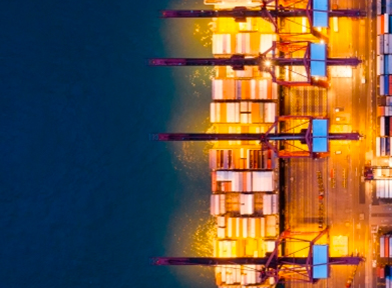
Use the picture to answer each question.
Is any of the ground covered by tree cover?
No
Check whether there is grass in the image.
No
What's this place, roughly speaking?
port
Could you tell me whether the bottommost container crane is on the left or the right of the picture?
right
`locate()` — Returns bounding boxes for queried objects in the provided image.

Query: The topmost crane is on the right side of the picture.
[156,0,366,43]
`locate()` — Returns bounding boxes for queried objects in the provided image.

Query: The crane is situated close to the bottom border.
[154,223,366,285]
